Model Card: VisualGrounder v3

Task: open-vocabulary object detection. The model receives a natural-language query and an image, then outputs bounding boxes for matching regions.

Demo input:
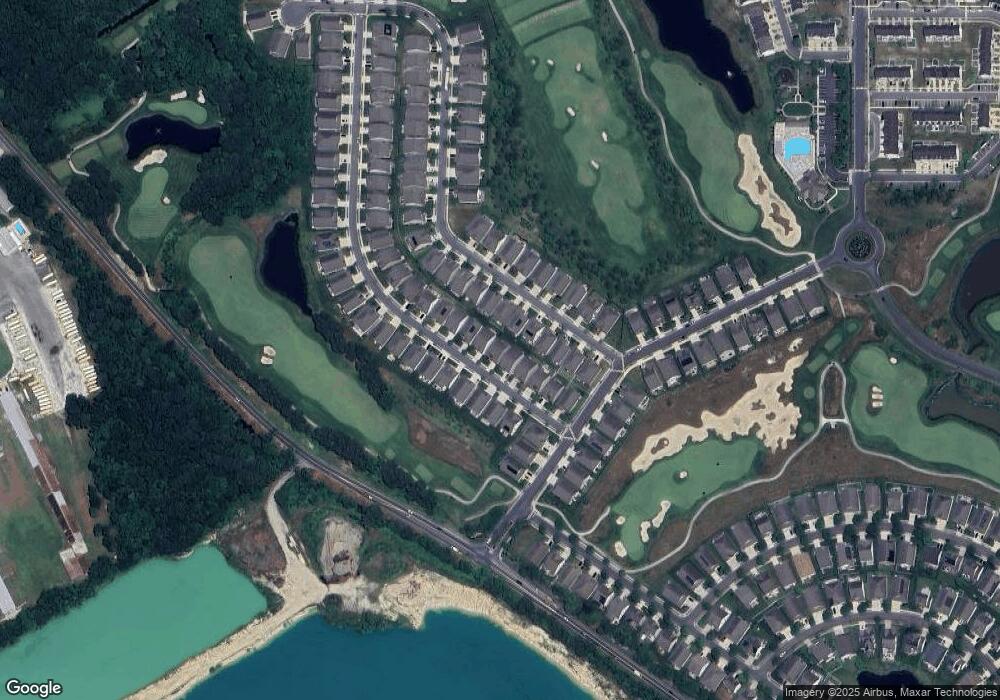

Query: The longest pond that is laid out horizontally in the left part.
[126,114,222,160]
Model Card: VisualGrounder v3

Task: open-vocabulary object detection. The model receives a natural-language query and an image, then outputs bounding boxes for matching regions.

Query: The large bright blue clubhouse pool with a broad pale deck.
[774,122,815,183]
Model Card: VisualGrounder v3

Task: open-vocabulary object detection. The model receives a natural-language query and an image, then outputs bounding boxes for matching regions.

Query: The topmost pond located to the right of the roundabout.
[950,233,1000,354]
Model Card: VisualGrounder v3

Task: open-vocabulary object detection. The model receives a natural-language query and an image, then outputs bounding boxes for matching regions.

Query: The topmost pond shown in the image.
[643,0,755,114]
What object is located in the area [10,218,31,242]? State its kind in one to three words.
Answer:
swimming pool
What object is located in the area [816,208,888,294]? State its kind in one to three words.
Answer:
roundabout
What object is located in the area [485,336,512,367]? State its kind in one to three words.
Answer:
house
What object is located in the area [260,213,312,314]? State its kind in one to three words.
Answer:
pond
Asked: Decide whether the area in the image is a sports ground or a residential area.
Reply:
residential area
